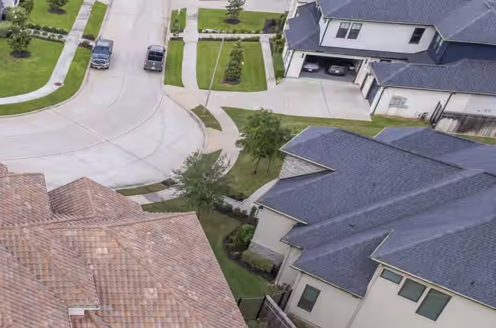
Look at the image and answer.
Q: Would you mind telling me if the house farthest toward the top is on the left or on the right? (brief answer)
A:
right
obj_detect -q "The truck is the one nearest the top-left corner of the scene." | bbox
[93,37,115,68]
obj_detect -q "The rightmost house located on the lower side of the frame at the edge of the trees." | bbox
[249,118,496,328]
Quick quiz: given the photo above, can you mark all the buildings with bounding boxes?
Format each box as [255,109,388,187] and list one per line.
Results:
[268,0,496,123]
[249,118,496,328]
[0,161,247,328]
